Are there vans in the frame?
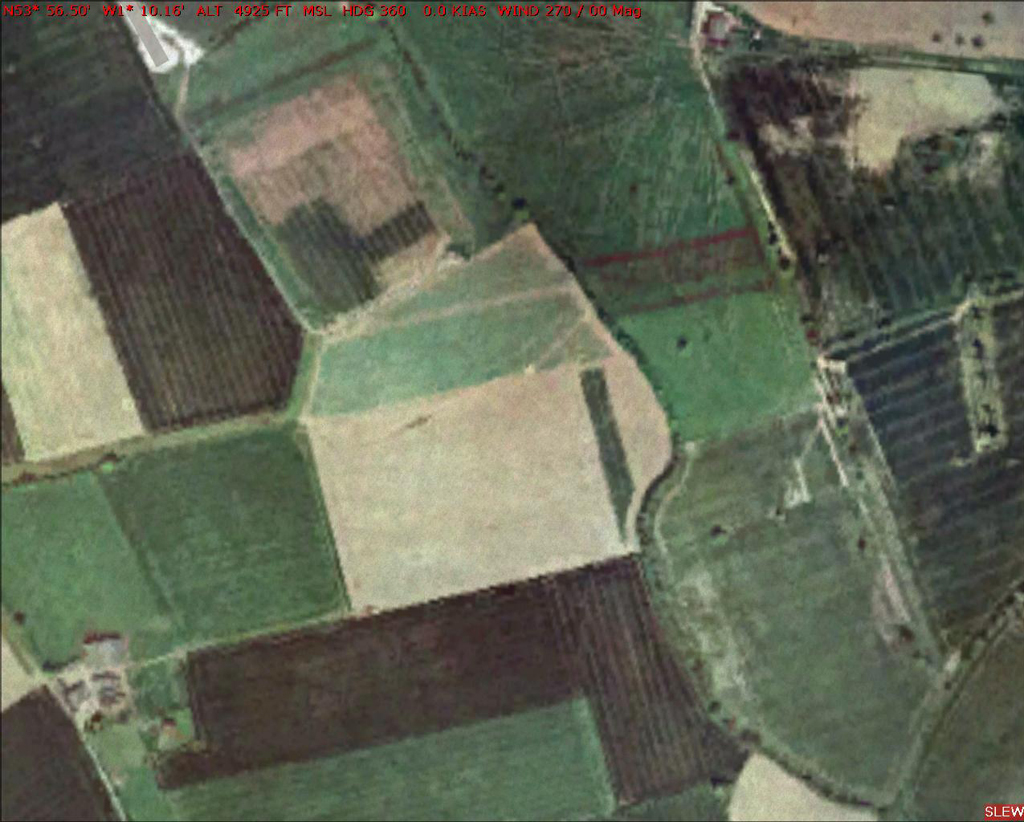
No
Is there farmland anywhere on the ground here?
Yes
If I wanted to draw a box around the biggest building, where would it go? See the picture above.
[88,640,127,664]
